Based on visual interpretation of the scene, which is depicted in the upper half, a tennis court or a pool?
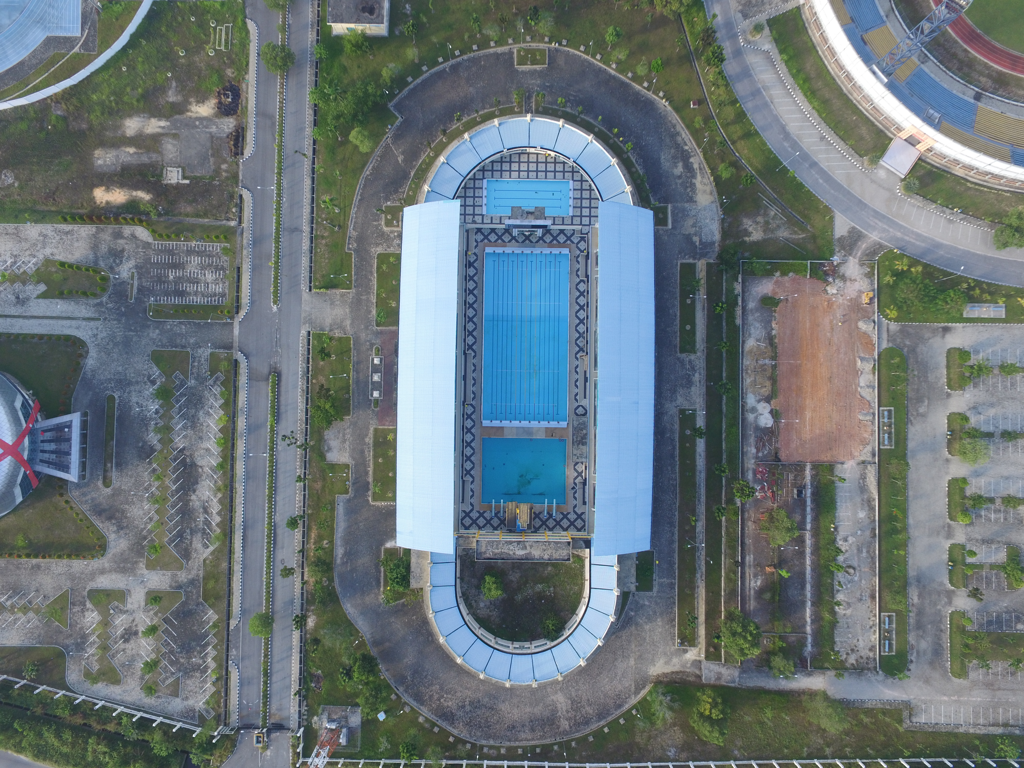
pool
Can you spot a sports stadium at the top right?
Yes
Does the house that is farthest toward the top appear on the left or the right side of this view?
left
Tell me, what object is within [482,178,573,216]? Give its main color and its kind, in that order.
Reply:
blue swimming pool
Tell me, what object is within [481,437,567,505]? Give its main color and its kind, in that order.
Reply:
blue swimming pool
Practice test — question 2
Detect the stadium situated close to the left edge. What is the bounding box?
[0,367,90,539]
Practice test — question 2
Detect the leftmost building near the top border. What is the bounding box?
[326,0,390,36]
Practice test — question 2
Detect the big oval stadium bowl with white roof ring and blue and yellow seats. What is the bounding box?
[798,0,1024,192]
